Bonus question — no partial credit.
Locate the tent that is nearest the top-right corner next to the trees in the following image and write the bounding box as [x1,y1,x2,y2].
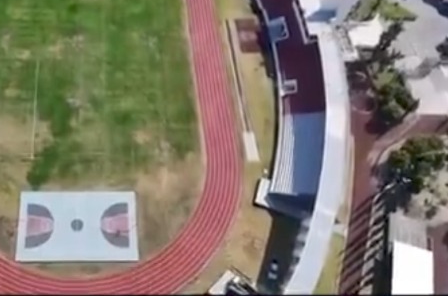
[348,14,382,48]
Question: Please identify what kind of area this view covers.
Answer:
sports ground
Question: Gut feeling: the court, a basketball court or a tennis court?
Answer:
basketball court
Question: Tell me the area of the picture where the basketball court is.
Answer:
bottom left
